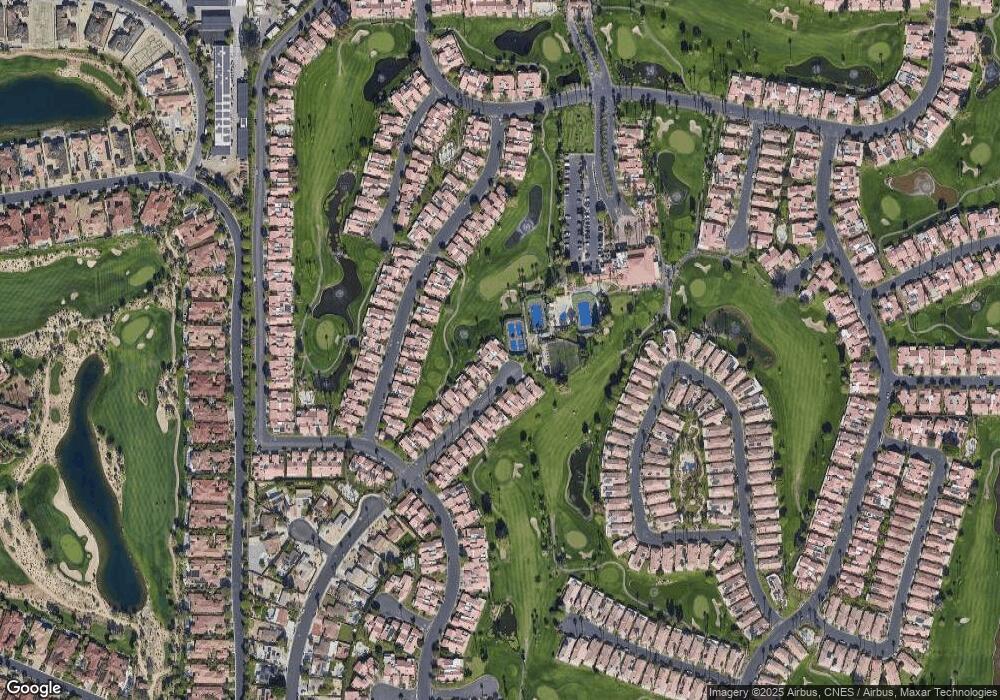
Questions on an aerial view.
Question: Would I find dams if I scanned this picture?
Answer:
No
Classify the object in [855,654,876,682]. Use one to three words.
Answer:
house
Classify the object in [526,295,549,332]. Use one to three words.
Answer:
tennis court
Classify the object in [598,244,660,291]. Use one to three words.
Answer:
building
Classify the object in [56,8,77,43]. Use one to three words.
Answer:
house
